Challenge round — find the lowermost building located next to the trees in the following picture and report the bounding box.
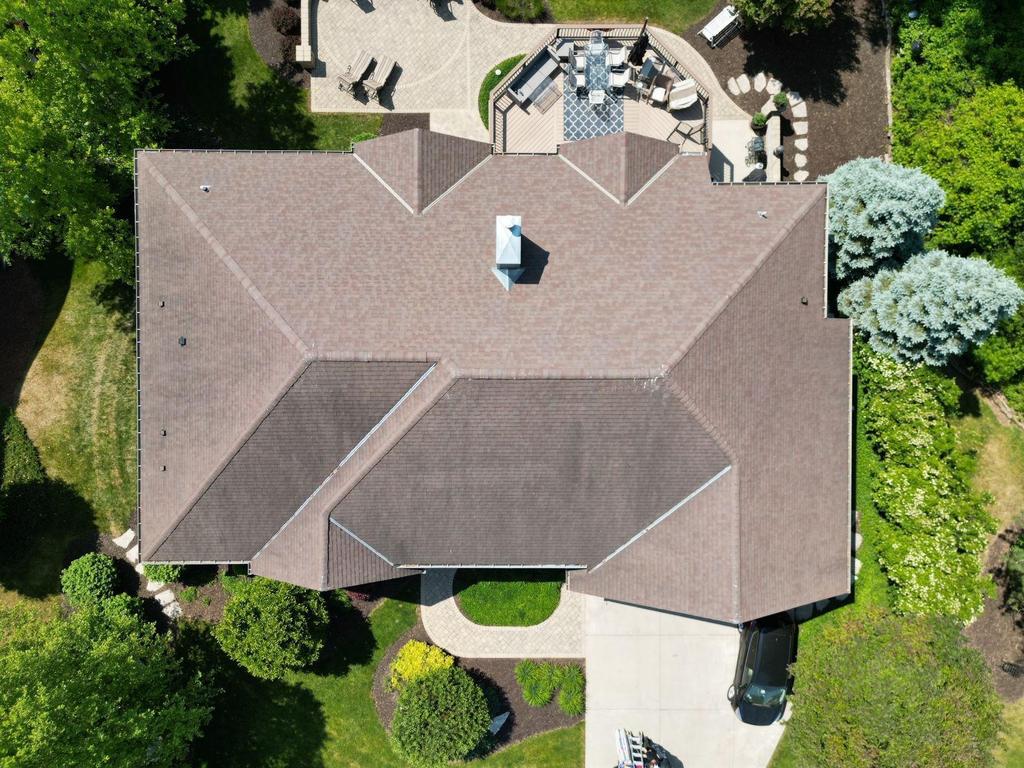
[134,127,856,623]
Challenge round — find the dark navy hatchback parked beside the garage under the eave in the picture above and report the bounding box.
[728,610,794,727]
